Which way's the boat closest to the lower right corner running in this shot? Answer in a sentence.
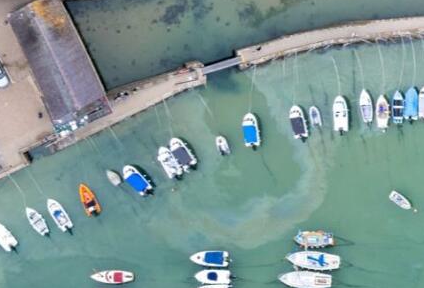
Seen from above, the boat closest to the lower right corner lies diagonally.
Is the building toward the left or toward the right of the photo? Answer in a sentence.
The building is on the left side of the image.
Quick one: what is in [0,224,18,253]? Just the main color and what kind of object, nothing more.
white boat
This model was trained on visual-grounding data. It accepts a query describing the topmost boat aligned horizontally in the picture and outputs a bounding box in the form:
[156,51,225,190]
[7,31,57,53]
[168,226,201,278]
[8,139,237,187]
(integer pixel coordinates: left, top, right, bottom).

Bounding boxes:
[295,230,340,248]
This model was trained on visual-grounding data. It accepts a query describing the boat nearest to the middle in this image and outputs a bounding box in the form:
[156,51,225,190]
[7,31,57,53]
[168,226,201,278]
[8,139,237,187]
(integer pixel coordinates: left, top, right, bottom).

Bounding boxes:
[217,135,232,159]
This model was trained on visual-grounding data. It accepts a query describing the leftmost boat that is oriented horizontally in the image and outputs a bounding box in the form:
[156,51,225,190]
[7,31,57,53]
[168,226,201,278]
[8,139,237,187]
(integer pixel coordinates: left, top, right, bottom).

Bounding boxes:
[91,269,140,284]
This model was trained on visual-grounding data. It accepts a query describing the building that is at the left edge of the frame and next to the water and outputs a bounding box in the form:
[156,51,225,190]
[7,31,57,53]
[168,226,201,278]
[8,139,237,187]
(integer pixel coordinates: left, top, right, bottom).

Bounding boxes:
[8,0,112,130]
